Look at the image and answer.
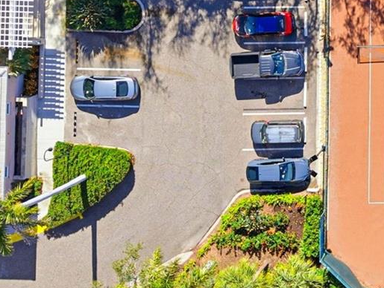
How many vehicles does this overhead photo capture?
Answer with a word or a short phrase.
5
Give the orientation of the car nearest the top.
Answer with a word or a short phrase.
horizontally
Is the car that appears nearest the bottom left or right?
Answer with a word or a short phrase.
right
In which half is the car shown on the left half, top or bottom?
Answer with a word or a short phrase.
top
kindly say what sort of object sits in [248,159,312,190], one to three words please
car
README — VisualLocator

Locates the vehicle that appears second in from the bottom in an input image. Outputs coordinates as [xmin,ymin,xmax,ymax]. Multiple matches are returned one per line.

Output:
[253,120,305,149]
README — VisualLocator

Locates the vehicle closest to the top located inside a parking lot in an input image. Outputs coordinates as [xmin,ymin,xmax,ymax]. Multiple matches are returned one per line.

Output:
[234,10,294,39]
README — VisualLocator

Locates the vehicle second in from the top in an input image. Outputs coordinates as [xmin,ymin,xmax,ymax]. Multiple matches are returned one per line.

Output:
[230,49,306,81]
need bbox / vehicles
[253,120,305,149]
[234,10,294,39]
[248,159,312,190]
[230,49,306,81]
[74,74,141,105]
